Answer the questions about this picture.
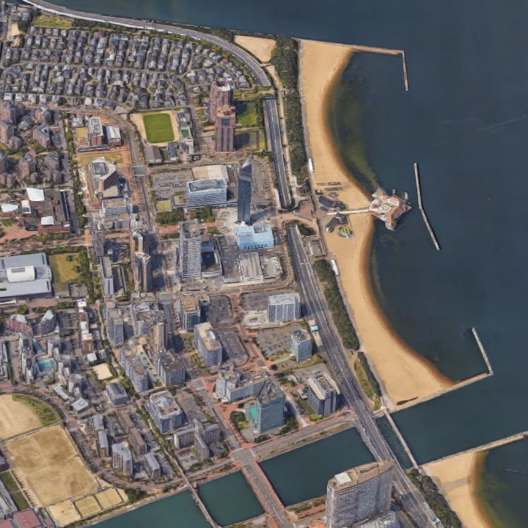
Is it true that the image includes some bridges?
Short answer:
Yes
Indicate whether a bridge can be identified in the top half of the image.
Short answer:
No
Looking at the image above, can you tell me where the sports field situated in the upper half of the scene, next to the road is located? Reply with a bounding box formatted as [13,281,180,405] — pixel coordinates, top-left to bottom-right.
[131,110,180,145]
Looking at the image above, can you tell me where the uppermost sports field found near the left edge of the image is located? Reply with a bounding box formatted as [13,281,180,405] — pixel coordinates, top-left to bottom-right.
[0,394,61,438]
